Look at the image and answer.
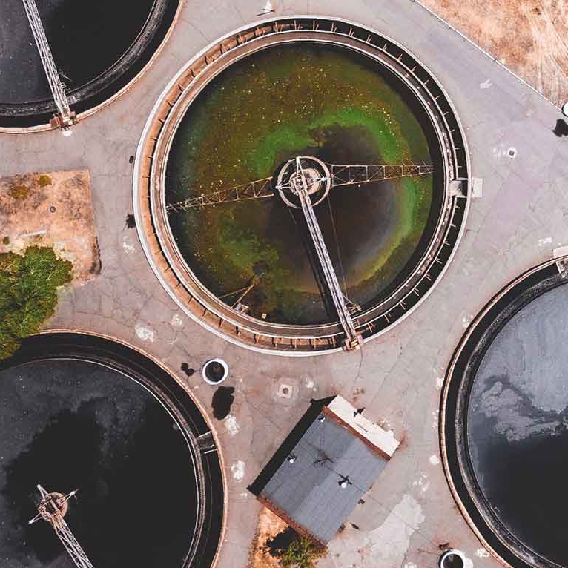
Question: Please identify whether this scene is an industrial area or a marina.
industrial area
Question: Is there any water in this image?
Yes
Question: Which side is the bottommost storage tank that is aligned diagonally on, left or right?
left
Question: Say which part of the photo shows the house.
bottom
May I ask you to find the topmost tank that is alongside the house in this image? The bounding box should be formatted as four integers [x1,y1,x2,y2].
[133,14,472,356]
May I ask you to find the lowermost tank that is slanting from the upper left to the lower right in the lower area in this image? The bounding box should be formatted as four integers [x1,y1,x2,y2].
[0,329,228,568]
